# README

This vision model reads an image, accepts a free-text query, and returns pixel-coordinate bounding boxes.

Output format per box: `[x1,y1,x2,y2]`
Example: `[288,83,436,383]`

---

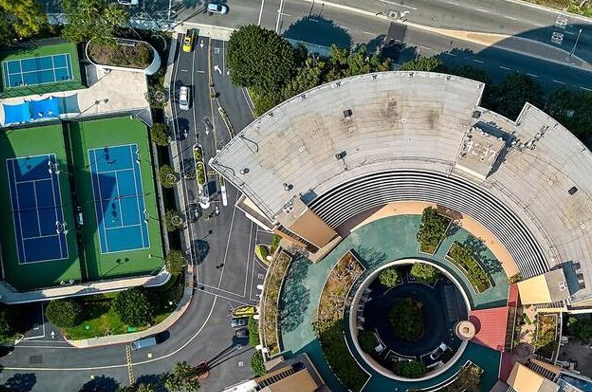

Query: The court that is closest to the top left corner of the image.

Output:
[0,41,83,93]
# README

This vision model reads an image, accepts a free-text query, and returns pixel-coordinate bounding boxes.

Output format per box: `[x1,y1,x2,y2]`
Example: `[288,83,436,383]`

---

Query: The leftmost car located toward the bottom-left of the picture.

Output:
[132,336,158,349]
